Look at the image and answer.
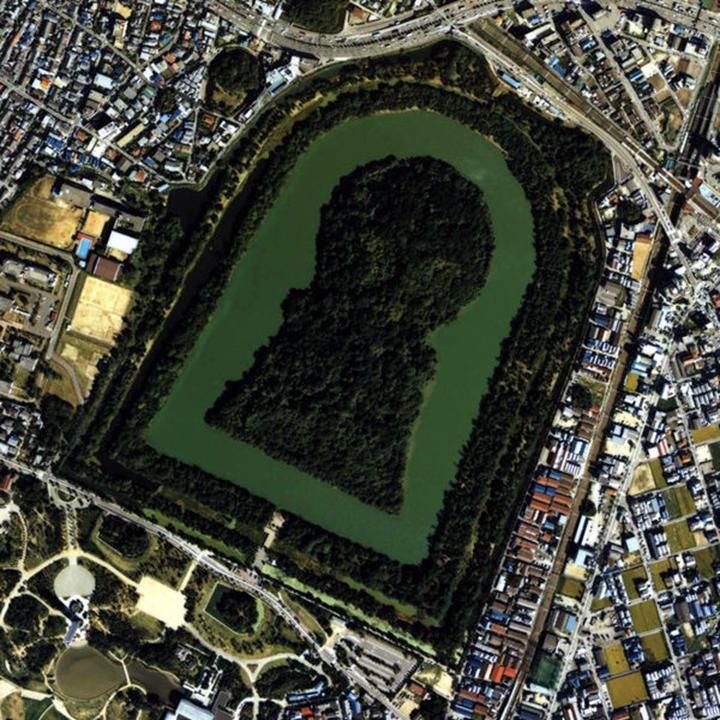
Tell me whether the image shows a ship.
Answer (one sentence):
No, there's no ship here.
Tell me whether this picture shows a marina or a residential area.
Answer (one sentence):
What you see here is a residential area.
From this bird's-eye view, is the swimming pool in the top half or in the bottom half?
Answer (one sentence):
The swimming pool sits in the top half of the picture.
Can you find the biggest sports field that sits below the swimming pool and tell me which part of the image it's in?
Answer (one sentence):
Look in the left portion of the view to spot the biggest sports field that sits below the swimming pool.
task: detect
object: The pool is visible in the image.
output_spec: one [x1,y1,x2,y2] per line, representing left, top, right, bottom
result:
[77,233,97,259]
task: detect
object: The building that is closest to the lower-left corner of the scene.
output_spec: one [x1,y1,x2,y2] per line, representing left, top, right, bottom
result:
[58,598,80,646]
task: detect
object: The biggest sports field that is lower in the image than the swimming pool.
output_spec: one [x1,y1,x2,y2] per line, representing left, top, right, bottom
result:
[70,277,136,344]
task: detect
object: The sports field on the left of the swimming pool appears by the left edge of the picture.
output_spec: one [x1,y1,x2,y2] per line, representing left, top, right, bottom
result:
[2,176,84,247]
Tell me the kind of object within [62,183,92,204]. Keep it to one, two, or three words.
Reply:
building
